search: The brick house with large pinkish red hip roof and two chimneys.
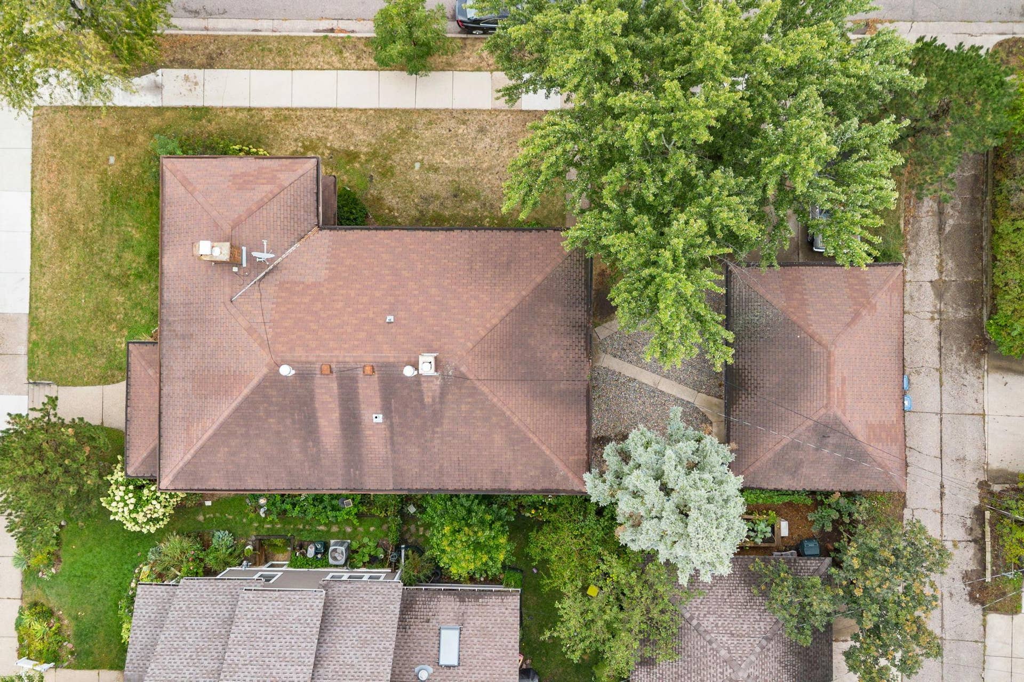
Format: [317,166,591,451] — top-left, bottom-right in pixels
[126,156,594,493]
